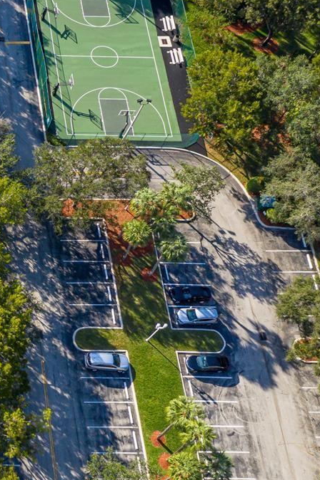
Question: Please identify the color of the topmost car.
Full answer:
In this view, the topmost car is black.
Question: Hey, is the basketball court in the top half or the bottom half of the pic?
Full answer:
The basketball court sits in the top half of the picture.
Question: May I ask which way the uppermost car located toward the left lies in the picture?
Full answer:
In this picture, the uppermost car located toward the left is oriented from left to right.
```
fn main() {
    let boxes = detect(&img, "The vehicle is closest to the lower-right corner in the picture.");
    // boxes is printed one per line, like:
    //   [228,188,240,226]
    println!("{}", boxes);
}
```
[185,354,232,375]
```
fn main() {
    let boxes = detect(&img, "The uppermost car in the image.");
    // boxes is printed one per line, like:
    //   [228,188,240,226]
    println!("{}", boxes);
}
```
[169,286,216,306]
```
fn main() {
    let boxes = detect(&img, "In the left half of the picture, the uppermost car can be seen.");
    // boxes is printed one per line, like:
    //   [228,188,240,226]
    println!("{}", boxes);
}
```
[86,351,130,372]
